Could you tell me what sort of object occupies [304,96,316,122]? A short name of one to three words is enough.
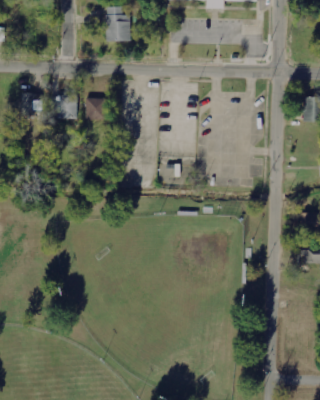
house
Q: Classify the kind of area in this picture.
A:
sports ground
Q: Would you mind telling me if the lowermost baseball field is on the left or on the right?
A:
left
